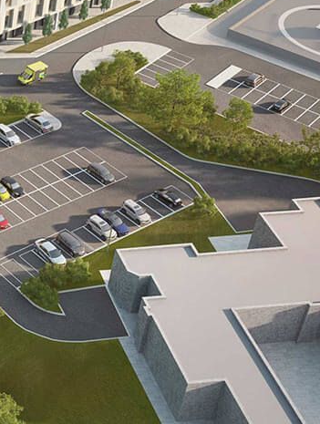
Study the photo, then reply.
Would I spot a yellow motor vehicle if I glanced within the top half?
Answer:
Yes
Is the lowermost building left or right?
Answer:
right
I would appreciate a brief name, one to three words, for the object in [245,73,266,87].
vehicle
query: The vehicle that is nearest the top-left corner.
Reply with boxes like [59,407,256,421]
[20,59,46,86]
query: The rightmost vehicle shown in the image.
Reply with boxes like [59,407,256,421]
[269,101,290,115]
